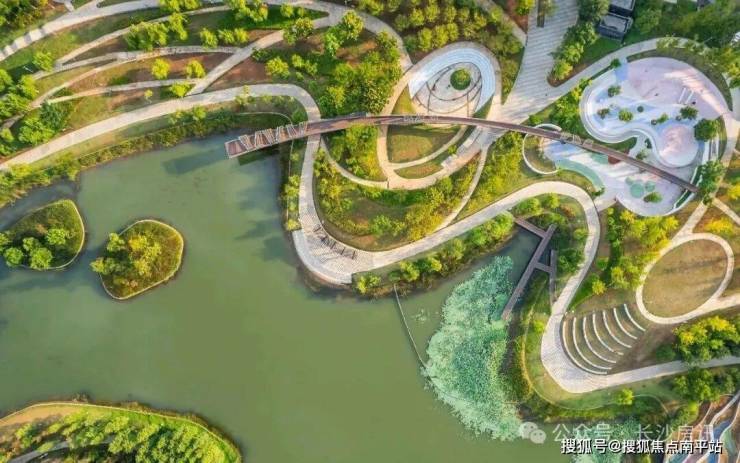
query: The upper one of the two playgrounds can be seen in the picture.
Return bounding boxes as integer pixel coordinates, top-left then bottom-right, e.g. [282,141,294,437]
[546,56,726,218]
